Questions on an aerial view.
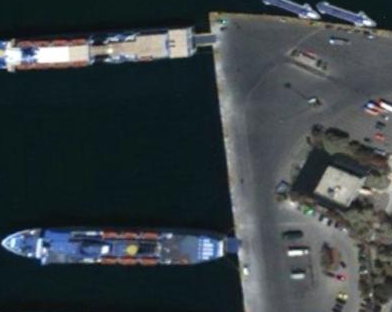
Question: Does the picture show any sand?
No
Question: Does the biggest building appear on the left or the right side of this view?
right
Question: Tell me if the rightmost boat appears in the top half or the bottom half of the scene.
top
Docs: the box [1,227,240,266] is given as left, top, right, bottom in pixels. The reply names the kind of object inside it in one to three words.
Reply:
ship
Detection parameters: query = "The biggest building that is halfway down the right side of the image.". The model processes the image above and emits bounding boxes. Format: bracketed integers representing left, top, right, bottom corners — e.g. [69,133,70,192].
[303,163,366,207]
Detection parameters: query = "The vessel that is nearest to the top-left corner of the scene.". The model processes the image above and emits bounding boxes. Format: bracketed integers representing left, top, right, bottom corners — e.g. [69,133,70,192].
[0,27,215,72]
